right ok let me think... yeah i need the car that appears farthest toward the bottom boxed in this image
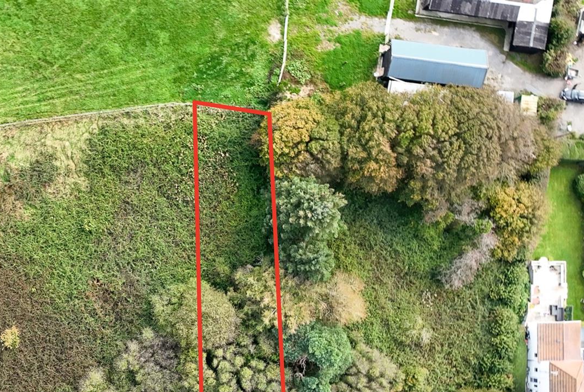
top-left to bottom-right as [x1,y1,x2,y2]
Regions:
[564,87,584,103]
